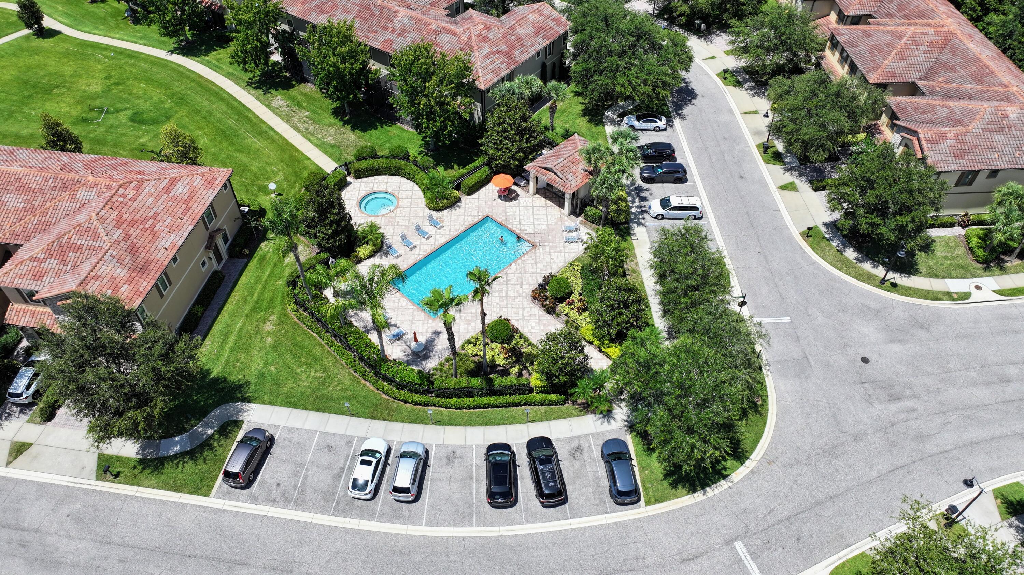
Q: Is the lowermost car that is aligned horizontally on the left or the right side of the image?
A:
right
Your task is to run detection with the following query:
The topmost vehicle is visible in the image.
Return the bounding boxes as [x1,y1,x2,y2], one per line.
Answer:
[621,112,668,131]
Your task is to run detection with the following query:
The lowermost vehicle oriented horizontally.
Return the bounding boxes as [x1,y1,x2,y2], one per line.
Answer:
[647,192,705,219]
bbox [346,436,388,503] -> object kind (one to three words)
car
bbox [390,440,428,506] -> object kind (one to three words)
car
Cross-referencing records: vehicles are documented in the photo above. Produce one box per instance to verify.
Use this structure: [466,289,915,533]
[526,436,568,511]
[483,442,517,511]
[647,192,705,219]
[602,439,641,507]
[638,159,690,184]
[346,436,388,503]
[621,112,668,131]
[220,427,273,491]
[633,140,679,163]
[390,440,428,506]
